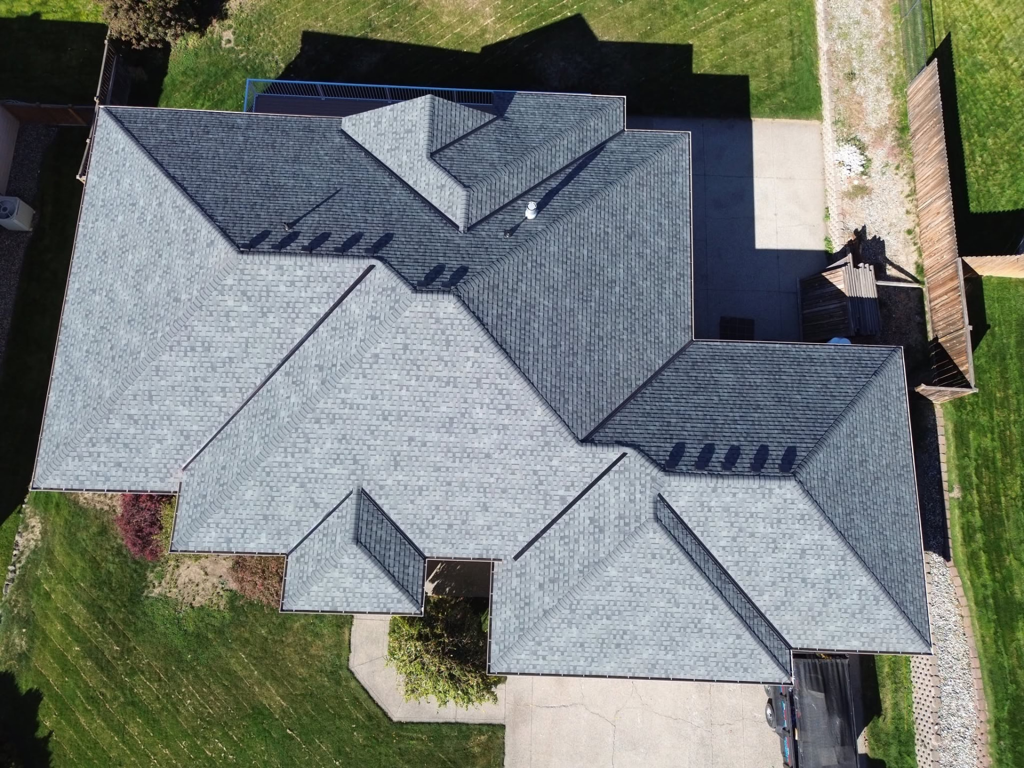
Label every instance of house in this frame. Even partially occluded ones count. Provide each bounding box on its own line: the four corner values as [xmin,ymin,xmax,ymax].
[0,106,19,199]
[32,91,932,683]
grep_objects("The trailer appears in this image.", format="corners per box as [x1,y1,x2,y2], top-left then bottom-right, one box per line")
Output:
[764,651,861,768]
